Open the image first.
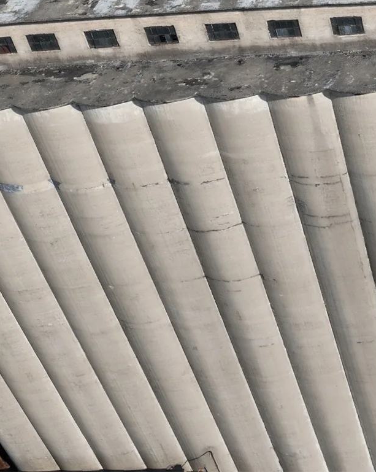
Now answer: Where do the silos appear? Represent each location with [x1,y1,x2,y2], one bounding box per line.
[259,97,376,471]
[195,99,368,472]
[0,378,61,472]
[0,205,141,471]
[10,107,231,472]
[324,96,376,305]
[0,109,186,472]
[132,101,322,472]
[70,105,276,472]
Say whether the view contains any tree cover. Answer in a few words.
No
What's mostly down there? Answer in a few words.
buildings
